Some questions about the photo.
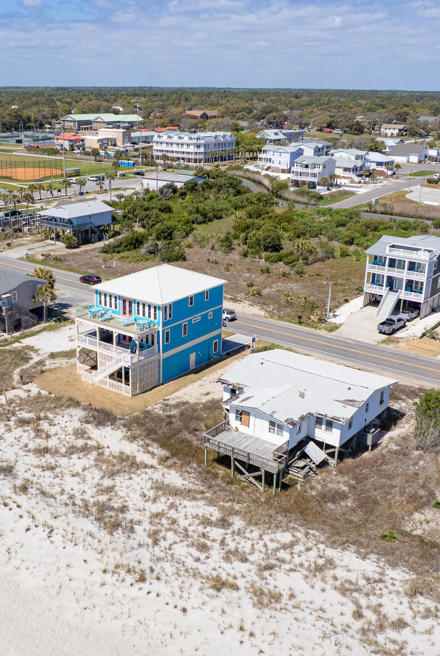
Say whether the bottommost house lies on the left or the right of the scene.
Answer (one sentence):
The bottommost house appears in the right half of the scene.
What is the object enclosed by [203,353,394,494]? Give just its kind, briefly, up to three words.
house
